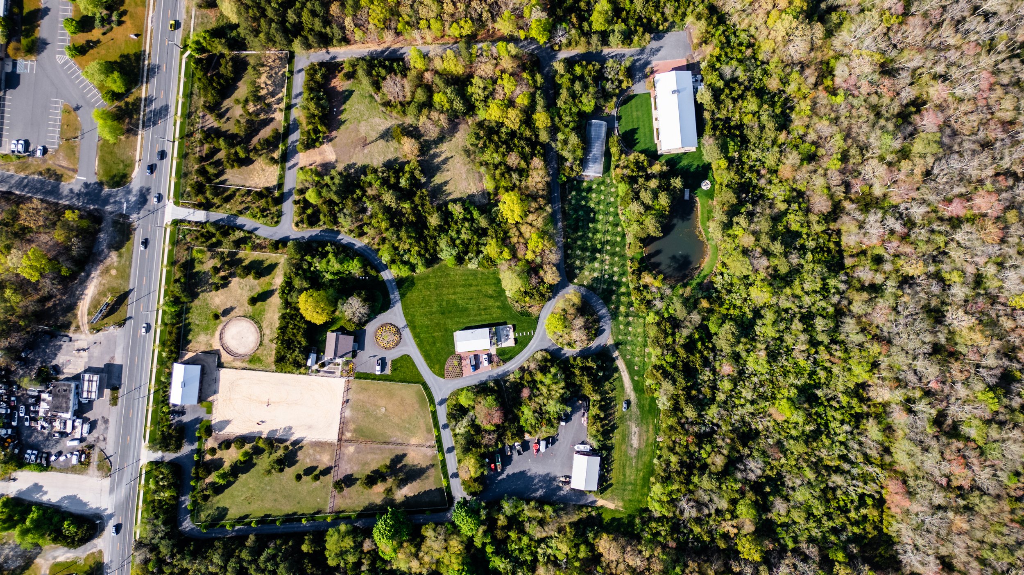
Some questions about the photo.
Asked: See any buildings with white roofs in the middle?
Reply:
Yes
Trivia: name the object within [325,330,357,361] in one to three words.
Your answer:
house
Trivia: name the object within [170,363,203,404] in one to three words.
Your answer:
building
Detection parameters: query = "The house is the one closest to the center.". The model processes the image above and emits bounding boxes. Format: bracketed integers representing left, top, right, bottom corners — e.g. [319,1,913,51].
[455,328,491,352]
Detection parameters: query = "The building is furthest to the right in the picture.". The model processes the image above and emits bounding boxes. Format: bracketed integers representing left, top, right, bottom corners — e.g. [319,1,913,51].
[652,70,698,151]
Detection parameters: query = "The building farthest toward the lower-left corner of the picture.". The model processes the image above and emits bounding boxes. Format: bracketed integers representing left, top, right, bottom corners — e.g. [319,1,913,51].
[40,382,80,419]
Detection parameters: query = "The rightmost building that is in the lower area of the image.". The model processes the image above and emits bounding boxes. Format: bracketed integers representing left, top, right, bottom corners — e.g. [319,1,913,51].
[570,452,600,491]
